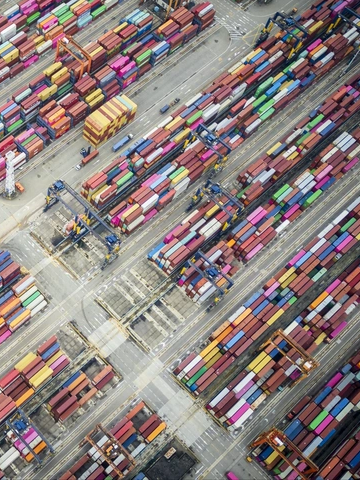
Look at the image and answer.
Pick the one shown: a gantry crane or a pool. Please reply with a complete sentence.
There is a gantry crane in the scene.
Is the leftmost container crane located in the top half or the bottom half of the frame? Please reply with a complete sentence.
The leftmost container crane is in the bottom half of the image.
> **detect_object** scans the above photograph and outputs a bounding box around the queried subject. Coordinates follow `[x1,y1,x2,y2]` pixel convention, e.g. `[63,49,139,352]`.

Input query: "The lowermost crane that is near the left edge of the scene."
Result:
[2,408,56,472]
